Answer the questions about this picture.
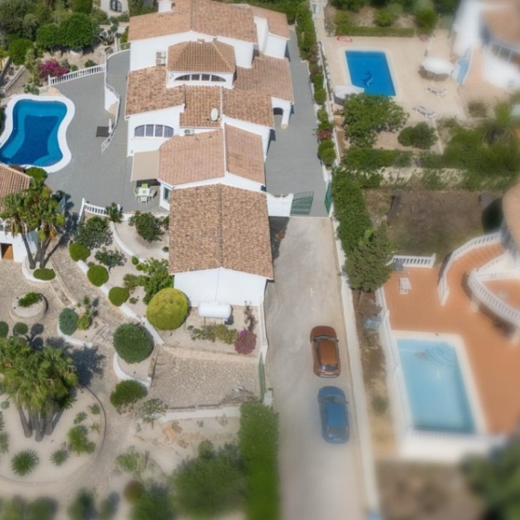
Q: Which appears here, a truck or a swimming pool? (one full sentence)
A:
Looking from above, you can make out a swimming pool.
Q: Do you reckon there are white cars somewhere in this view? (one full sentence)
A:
No, I can't see a single white car in this photo.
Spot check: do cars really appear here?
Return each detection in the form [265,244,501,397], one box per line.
[311,330,345,382]
[318,390,353,446]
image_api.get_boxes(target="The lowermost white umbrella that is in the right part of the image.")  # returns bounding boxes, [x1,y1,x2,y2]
[331,79,369,106]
